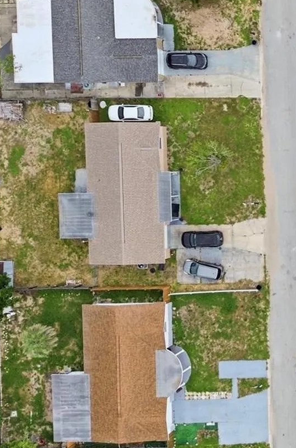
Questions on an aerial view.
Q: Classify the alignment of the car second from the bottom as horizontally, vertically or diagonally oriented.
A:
horizontally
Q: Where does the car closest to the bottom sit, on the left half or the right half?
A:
right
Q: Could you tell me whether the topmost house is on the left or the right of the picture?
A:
left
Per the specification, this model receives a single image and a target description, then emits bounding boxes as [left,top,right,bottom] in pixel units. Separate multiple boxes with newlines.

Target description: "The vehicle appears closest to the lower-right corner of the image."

[184,257,227,281]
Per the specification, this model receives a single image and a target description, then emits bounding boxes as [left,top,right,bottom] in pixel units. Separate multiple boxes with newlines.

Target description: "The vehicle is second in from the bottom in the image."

[183,230,225,249]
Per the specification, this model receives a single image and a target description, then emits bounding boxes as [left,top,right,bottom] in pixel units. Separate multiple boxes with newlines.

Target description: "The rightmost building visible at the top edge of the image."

[12,0,174,84]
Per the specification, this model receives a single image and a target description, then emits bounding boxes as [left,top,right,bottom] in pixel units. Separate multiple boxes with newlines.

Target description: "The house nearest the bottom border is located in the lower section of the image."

[52,302,193,446]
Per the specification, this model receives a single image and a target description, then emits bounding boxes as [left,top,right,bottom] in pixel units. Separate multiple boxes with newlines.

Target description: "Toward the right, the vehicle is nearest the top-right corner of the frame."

[166,50,210,70]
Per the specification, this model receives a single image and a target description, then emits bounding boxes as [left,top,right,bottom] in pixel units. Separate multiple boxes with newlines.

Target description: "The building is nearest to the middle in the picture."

[58,121,190,266]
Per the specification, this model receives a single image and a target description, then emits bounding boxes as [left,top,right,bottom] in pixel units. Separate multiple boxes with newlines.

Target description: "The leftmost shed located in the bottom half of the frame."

[0,260,24,286]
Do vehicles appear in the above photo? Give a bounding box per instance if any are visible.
[183,230,225,249]
[184,257,227,281]
[166,50,210,70]
[110,103,156,122]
